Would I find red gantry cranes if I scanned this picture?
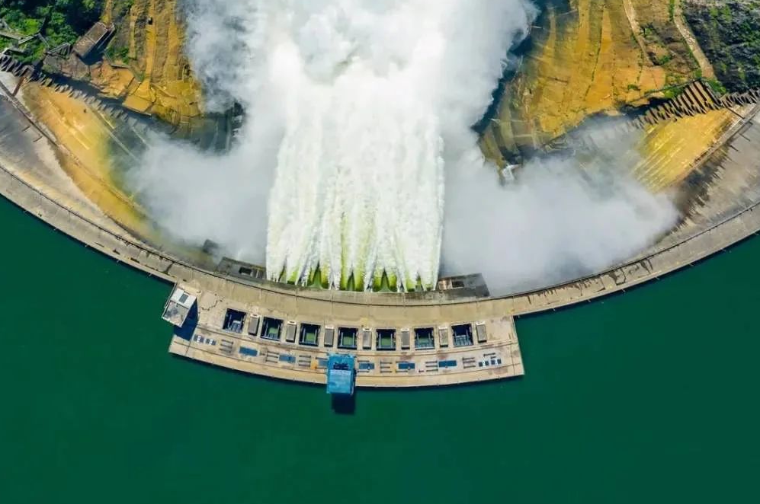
No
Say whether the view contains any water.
Yes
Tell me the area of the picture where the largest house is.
left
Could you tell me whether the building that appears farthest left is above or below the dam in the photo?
above it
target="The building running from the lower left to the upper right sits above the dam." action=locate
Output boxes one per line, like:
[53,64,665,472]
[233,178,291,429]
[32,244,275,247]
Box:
[73,21,111,57]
